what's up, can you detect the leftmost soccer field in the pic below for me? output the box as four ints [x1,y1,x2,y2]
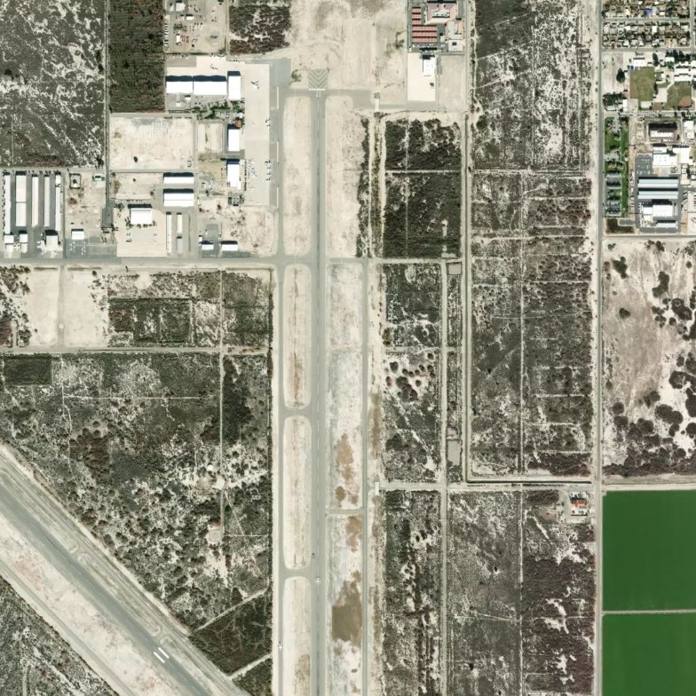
[631,67,655,101]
